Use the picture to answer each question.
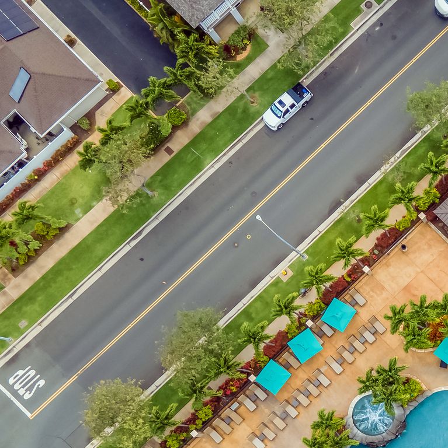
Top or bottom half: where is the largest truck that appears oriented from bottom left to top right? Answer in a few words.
top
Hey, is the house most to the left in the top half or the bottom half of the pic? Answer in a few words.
top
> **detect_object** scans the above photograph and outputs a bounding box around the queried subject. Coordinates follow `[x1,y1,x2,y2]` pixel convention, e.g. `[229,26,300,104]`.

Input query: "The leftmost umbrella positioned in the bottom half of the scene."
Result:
[255,359,292,395]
